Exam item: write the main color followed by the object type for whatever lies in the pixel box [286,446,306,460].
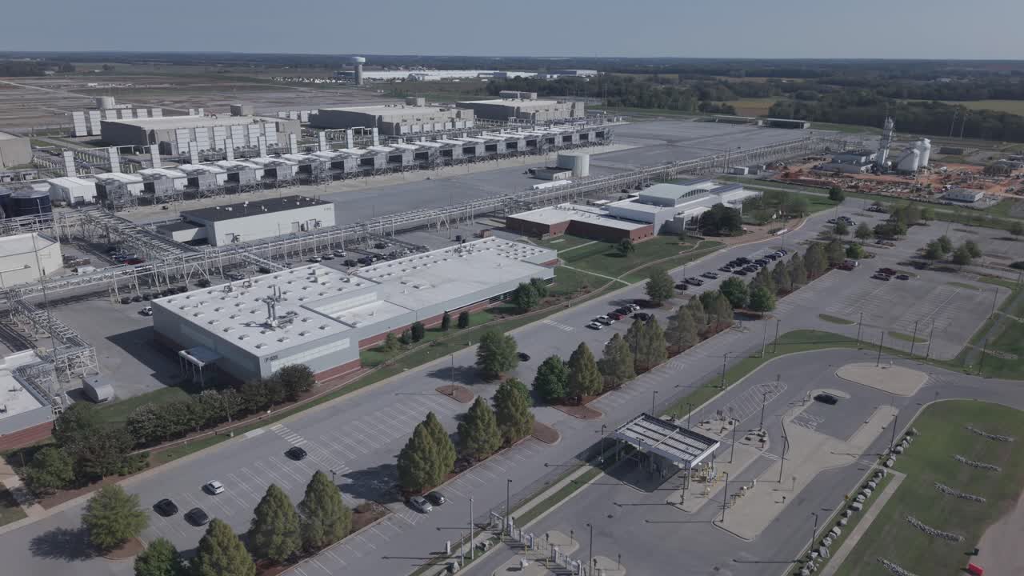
black car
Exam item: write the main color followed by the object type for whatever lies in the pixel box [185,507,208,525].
black car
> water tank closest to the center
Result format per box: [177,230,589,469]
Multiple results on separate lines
[561,150,587,176]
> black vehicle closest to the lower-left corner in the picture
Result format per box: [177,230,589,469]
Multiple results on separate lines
[156,500,178,516]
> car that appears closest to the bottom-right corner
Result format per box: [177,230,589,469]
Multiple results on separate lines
[814,391,838,404]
